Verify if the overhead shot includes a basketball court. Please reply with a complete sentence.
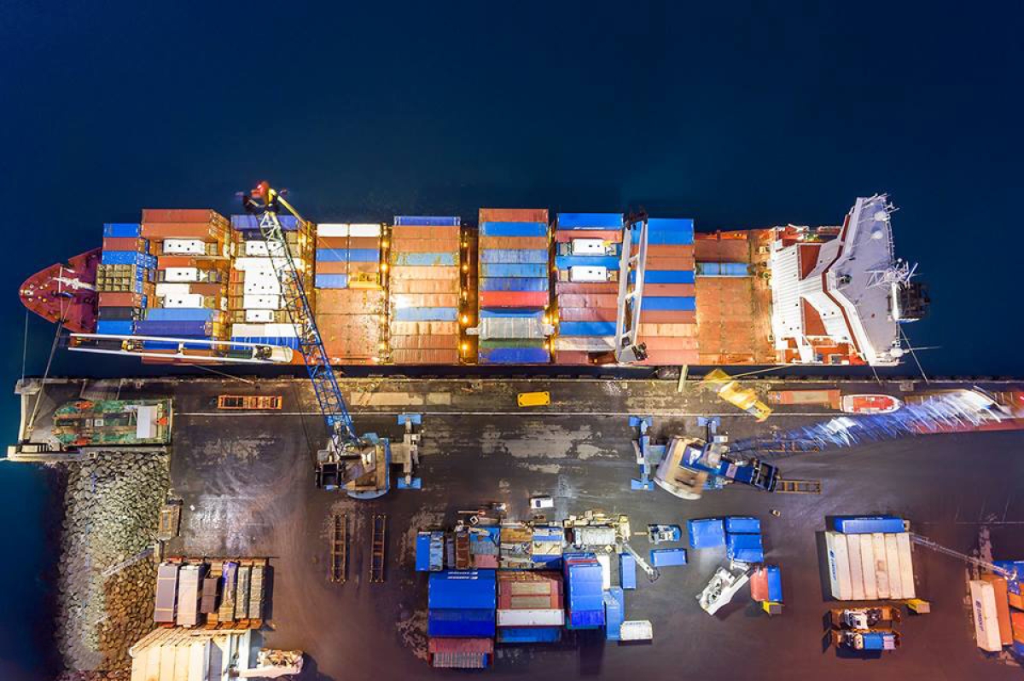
No, the photo shows no basketball court.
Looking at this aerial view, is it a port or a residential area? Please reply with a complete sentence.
It's a port.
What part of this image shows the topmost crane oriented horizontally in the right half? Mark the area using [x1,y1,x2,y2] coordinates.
[628,383,1002,493]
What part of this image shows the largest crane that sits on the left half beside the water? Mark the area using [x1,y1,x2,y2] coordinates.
[231,179,422,502]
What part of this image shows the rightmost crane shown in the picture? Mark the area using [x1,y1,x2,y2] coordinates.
[901,530,1024,592]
